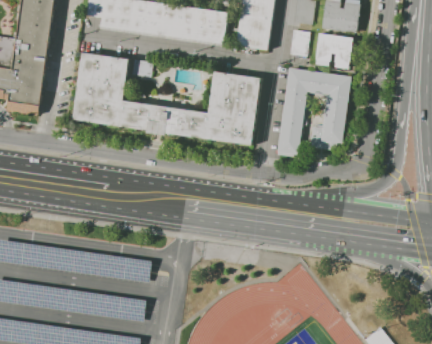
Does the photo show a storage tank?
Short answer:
No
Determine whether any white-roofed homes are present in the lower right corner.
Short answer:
No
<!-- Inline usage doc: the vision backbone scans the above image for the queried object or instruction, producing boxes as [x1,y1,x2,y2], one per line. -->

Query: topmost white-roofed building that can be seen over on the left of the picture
[88,0,228,45]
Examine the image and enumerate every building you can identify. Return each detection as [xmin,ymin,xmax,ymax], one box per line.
[88,0,228,45]
[72,52,261,145]
[0,0,54,115]
[278,68,352,156]
[290,30,311,58]
[297,0,316,26]
[316,34,354,70]
[322,0,360,33]
[237,0,276,51]
[136,60,153,78]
